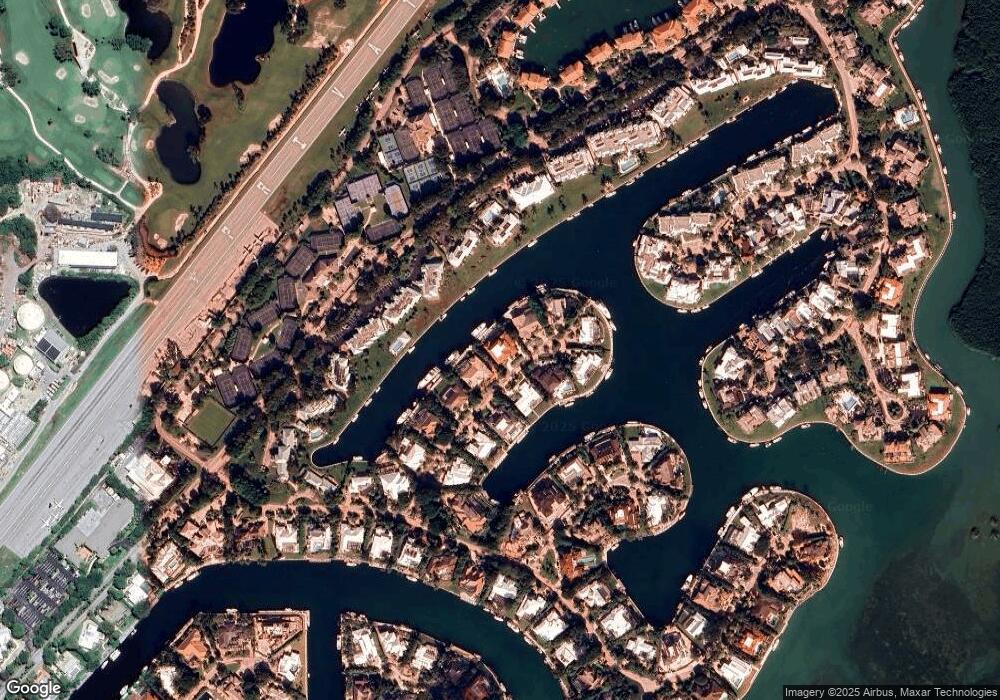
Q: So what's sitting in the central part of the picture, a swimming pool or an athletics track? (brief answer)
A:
swimming pool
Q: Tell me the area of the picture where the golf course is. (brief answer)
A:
top left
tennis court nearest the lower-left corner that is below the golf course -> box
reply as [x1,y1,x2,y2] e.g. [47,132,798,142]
[215,365,257,405]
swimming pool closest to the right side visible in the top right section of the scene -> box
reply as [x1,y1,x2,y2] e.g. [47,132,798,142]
[894,105,921,129]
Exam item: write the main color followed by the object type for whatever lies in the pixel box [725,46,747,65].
white swimming pool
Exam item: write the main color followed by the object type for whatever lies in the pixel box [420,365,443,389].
white boat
